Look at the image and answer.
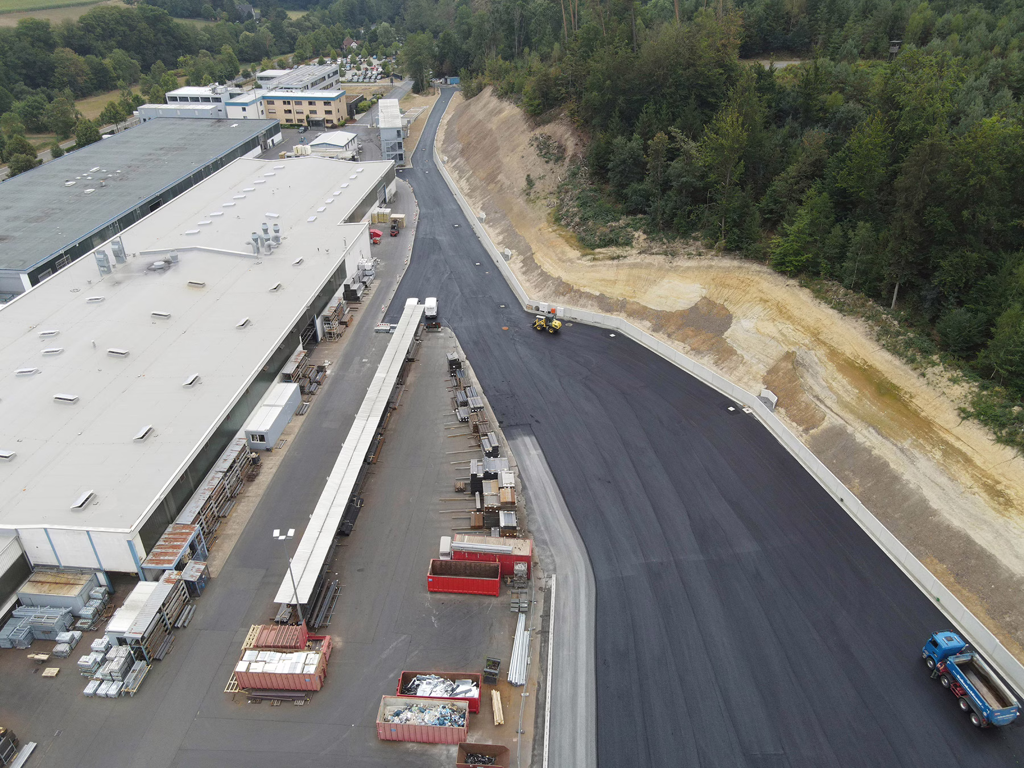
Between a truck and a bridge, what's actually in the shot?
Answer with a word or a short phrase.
truck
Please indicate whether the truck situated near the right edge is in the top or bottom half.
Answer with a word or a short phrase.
bottom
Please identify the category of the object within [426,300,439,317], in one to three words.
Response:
vehicle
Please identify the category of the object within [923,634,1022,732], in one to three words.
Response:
truck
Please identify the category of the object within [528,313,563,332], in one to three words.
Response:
work vehicle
